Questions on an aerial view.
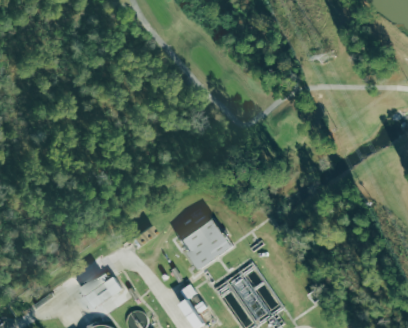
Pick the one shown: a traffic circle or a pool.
pool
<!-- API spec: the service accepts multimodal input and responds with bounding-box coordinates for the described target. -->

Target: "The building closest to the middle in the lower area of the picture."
[170,201,231,268]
